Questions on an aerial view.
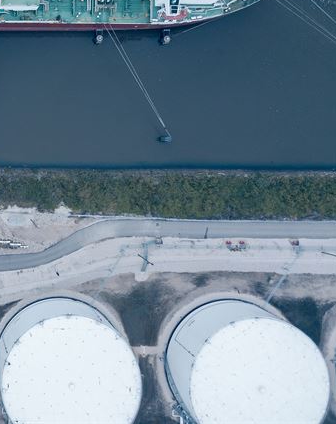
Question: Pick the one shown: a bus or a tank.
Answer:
tank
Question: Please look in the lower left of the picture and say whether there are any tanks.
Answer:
Yes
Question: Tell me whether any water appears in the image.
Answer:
Yes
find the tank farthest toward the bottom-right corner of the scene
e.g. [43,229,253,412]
[163,298,329,424]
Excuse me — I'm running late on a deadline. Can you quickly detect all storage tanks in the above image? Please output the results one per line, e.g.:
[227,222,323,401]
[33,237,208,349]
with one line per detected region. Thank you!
[0,298,143,424]
[163,298,329,424]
